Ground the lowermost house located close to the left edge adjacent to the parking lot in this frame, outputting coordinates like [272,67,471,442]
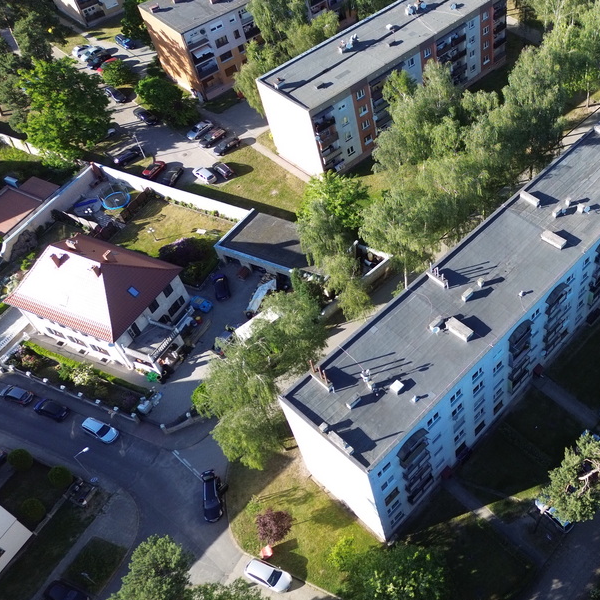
[2,231,206,376]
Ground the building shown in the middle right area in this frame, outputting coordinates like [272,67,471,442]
[277,119,600,540]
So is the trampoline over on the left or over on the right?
left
